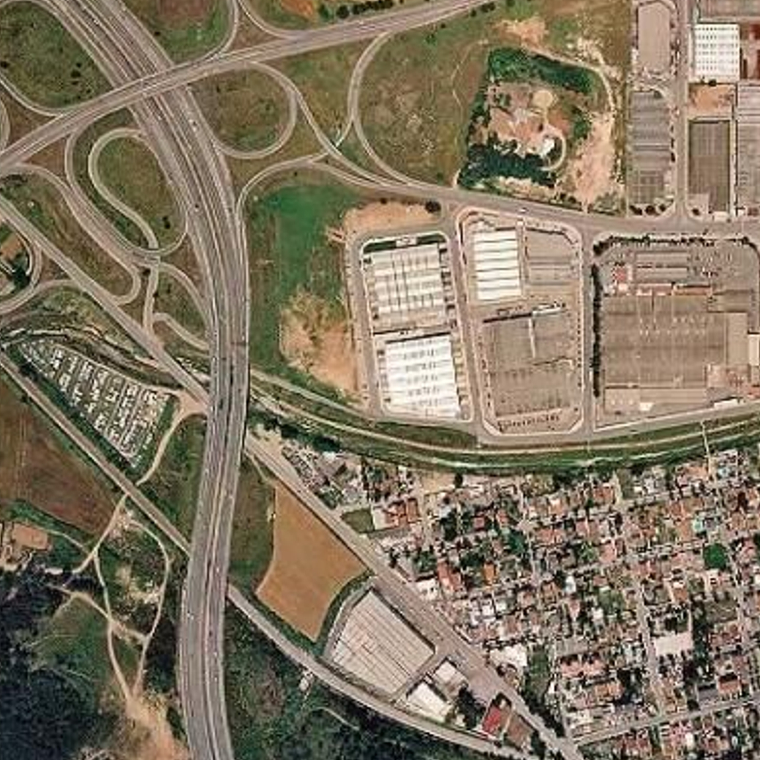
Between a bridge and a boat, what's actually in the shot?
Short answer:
bridge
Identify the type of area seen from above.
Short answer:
residential area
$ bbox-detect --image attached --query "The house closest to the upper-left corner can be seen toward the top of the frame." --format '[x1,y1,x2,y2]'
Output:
[0,235,23,261]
